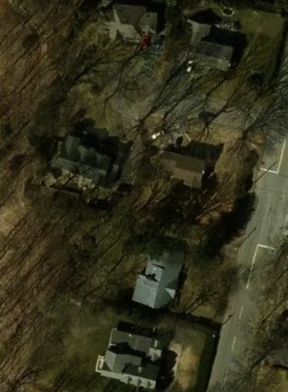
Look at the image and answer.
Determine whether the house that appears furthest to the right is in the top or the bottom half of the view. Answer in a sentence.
The house that appears furthest to the right sits in the top half of the picture.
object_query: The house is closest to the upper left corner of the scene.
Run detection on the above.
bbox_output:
[105,2,159,39]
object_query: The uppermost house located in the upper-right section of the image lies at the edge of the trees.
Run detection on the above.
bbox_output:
[188,16,236,62]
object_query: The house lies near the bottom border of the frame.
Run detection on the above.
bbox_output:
[96,330,164,390]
